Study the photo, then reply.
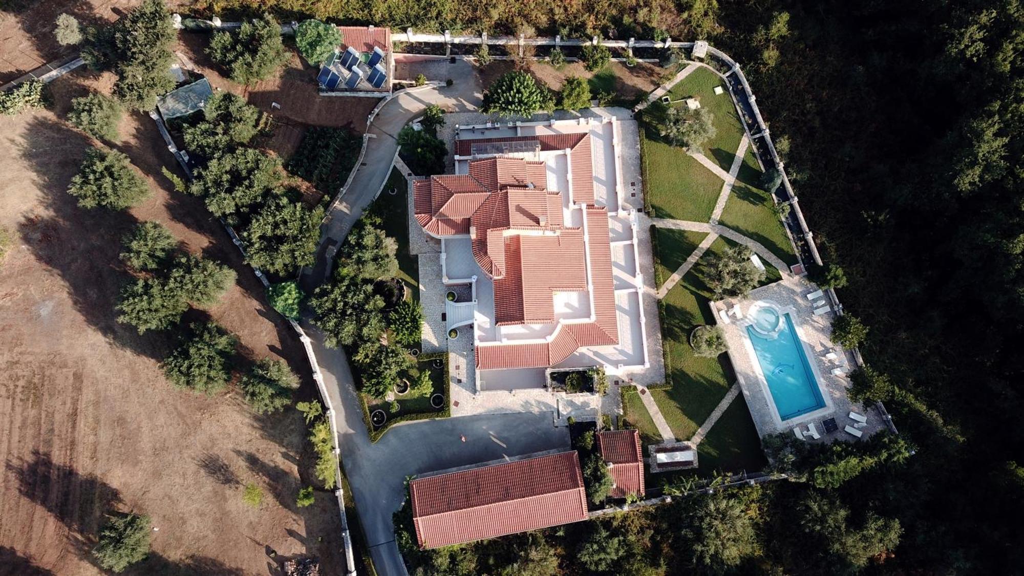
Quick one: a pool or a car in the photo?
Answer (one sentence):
Of the two, only a pool appears.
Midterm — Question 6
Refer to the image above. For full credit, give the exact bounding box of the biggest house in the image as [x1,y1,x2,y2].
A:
[413,116,649,394]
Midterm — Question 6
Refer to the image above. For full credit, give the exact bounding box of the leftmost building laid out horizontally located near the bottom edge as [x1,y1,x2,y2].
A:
[409,451,589,549]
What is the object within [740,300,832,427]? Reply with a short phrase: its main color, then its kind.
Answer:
blue swimming pool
